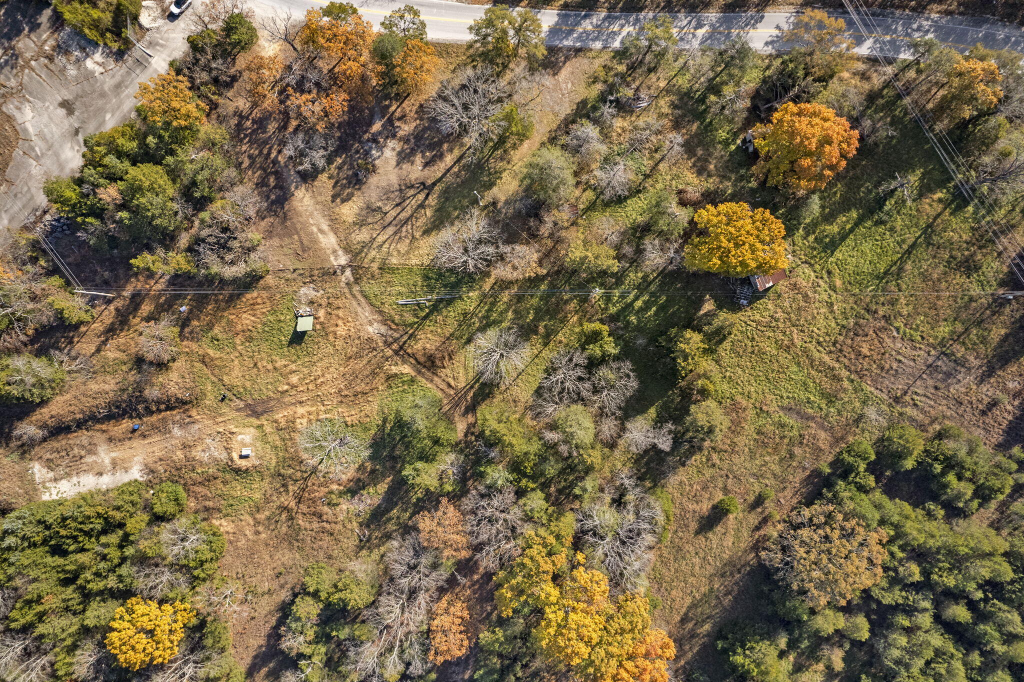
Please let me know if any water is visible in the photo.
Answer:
No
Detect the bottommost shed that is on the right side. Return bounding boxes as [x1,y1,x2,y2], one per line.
[746,266,787,293]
